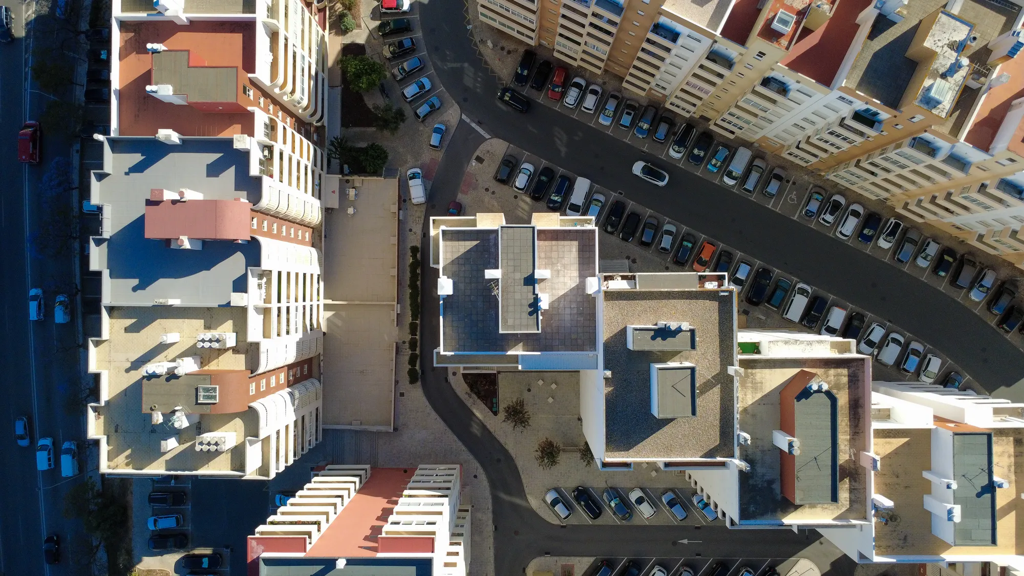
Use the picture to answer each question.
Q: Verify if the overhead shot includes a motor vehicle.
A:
Yes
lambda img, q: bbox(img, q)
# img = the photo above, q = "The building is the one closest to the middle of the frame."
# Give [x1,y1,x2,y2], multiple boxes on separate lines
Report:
[431,213,598,369]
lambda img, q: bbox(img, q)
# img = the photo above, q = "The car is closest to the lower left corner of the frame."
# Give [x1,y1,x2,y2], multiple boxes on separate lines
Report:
[42,533,62,565]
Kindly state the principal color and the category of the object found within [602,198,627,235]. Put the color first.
black car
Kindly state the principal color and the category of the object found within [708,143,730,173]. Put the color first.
blue car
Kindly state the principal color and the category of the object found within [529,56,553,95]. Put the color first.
black car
